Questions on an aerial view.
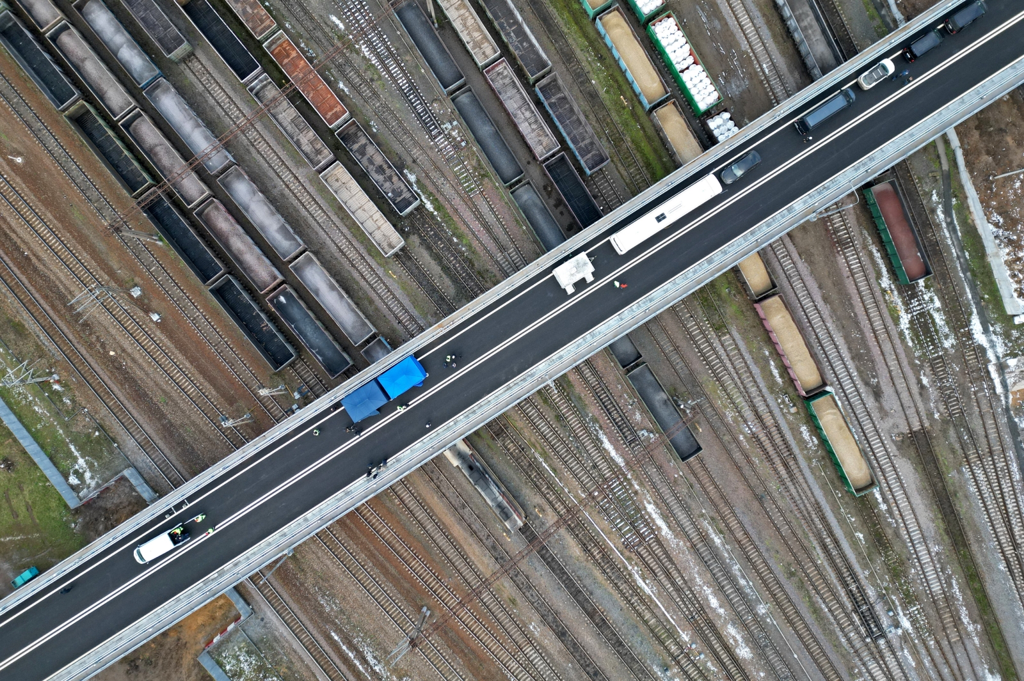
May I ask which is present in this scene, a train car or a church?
train car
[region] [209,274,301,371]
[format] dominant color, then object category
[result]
black rail car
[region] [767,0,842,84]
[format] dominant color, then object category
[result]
gray rail car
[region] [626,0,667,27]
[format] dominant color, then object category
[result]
green rail car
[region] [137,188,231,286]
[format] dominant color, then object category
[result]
black rail car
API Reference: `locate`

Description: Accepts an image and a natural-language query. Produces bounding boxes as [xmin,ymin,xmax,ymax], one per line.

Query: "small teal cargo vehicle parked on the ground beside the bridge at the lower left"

[11,564,43,589]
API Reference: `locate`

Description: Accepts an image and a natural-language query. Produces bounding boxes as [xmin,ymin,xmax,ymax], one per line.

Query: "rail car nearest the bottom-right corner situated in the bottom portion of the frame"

[802,390,879,497]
